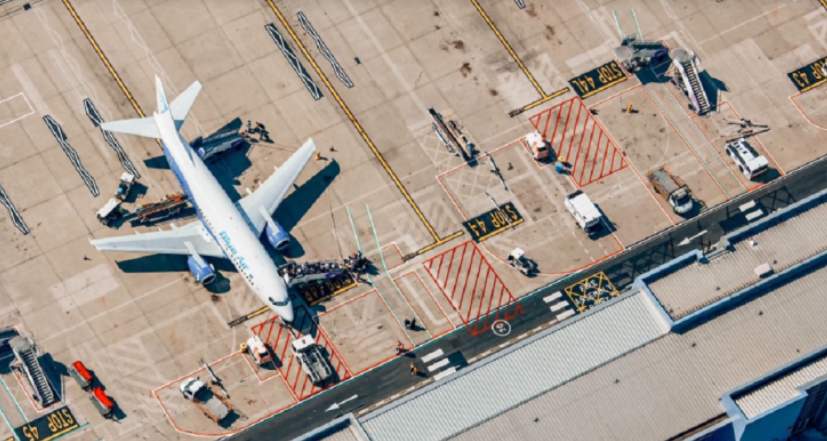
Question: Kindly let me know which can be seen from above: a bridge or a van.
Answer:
van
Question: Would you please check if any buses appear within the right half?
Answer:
Yes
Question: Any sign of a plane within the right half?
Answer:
No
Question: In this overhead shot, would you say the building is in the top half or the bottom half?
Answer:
bottom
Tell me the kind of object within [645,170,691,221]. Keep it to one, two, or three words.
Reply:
truck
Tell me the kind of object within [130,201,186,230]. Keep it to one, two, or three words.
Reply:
work vehicle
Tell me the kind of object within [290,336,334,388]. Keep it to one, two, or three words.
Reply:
work vehicle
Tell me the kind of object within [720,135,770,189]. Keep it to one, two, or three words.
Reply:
bus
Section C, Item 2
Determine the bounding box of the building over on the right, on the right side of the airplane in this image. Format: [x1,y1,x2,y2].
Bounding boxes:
[293,191,827,441]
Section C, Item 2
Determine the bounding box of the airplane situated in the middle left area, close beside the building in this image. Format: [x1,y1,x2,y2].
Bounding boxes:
[91,77,316,324]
